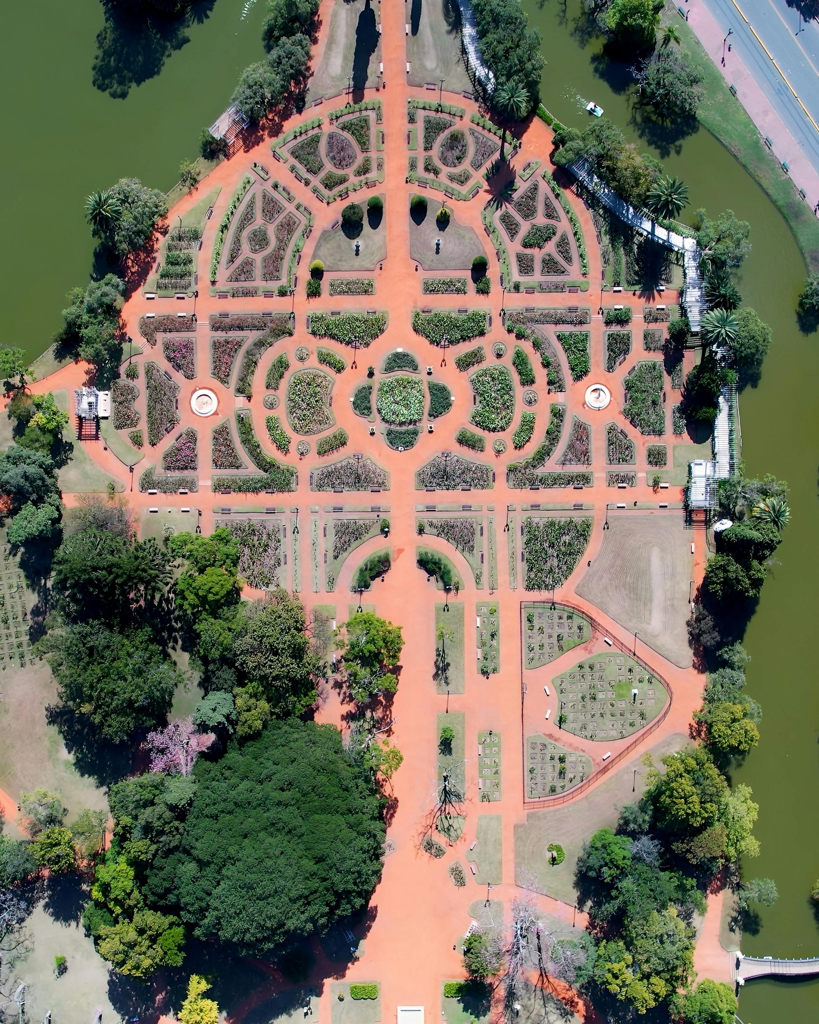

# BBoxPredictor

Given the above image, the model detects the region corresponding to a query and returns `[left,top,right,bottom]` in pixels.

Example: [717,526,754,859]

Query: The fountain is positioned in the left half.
[190,389,218,416]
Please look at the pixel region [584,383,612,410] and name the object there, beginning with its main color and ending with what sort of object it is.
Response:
white fountain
